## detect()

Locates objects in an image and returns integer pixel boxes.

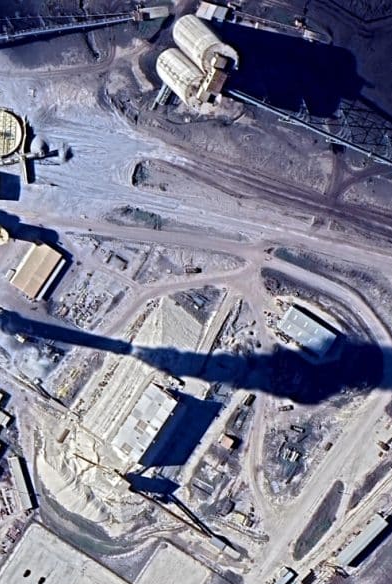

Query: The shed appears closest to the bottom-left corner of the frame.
[8,455,32,511]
